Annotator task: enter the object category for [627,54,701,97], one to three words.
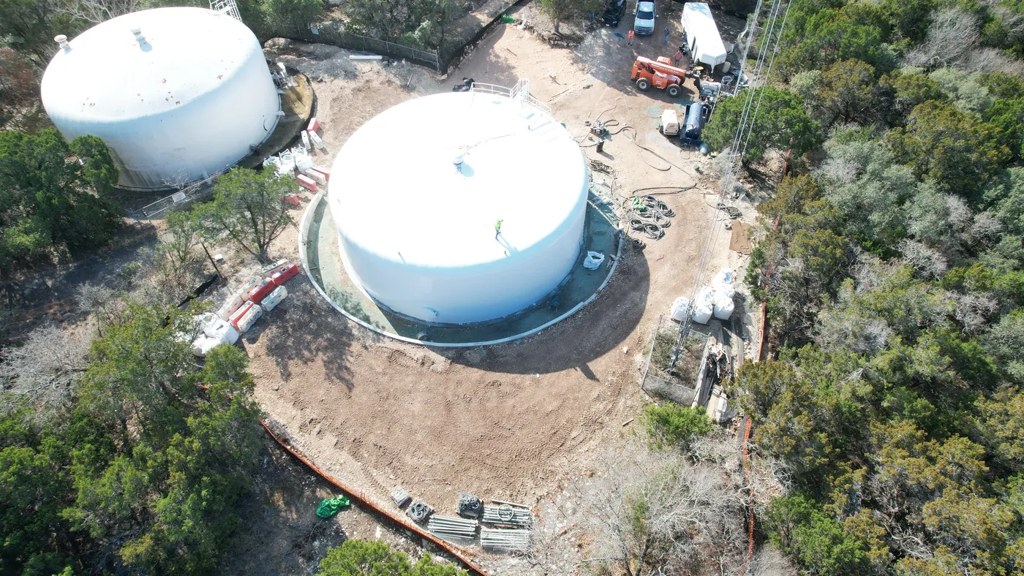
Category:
work vehicle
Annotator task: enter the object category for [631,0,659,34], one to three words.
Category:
truck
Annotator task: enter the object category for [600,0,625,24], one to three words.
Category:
car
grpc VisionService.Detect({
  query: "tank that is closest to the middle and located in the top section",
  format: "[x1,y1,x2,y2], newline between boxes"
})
[329,78,589,331]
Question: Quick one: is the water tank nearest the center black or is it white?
white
